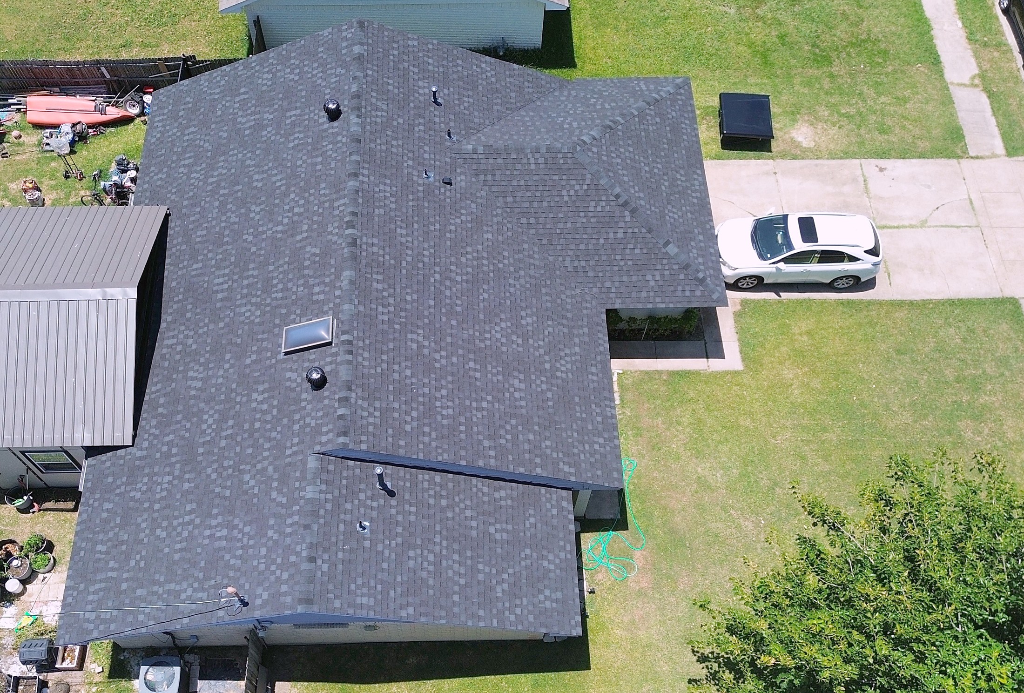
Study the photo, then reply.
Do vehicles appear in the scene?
Yes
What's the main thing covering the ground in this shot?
buildings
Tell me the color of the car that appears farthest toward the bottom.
white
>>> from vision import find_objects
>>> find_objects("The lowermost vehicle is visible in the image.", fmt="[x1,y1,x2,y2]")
[716,207,886,289]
